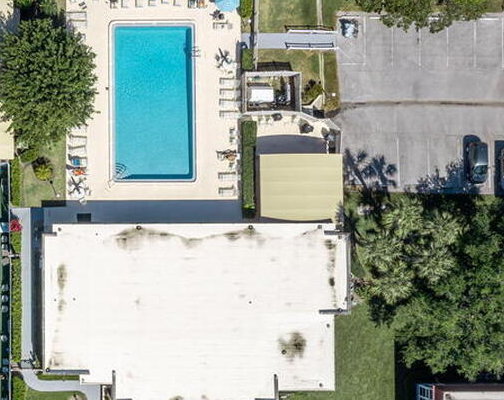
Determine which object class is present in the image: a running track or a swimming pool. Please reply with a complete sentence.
Visible in the photo is a swimming pool.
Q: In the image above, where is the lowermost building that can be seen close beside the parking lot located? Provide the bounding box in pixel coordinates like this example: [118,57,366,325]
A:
[42,224,351,400]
